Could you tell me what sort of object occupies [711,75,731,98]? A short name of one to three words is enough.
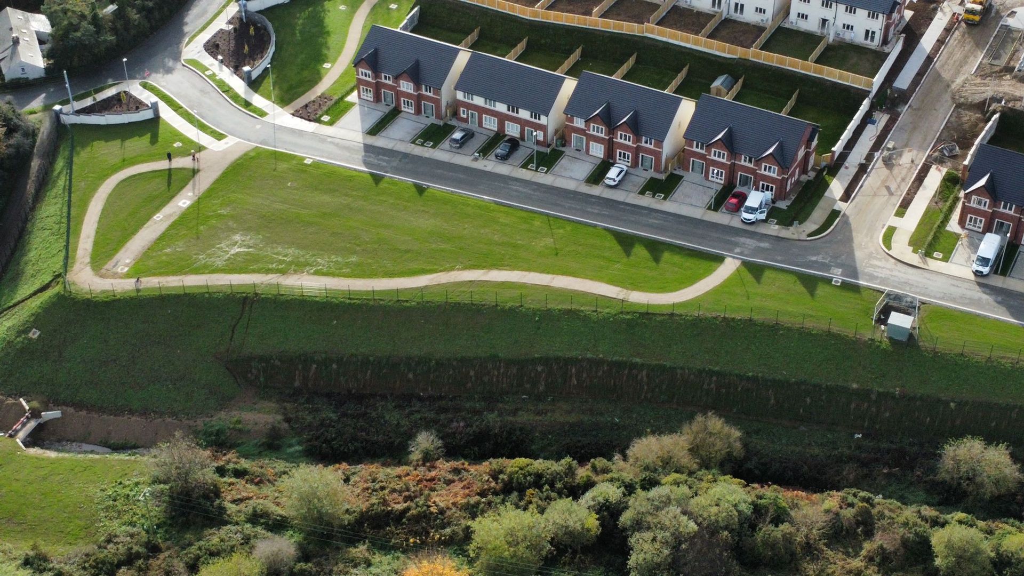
shed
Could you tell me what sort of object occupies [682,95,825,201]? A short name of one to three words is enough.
house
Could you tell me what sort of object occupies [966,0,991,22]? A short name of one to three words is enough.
truck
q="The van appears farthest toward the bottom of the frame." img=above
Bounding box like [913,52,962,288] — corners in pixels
[977,227,1008,270]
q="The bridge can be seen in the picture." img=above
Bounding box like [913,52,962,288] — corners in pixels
[0,399,61,451]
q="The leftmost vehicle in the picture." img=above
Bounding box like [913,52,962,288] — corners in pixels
[449,125,475,148]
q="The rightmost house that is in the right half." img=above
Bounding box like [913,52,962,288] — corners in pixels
[958,142,1024,239]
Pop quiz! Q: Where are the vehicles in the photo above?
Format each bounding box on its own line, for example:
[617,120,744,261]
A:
[966,0,991,22]
[495,138,520,159]
[449,125,475,148]
[606,163,631,185]
[726,189,750,211]
[977,227,1008,270]
[745,185,777,219]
